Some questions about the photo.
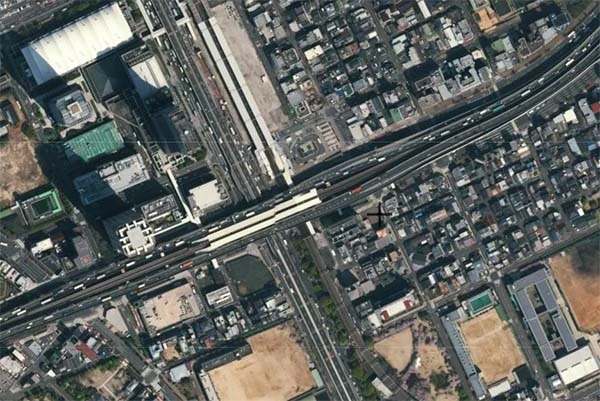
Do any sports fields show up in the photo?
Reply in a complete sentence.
Yes, the photo shows a sports field.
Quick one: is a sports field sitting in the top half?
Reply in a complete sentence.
No, no sports field can be made out in the top half.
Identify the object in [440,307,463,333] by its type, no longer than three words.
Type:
building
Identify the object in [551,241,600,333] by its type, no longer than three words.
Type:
sports field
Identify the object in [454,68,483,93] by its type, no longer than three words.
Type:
building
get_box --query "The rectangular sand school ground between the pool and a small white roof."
[459,309,526,384]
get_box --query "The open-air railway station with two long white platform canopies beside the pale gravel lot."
[199,17,295,186]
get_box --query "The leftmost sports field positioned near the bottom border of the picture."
[208,322,315,401]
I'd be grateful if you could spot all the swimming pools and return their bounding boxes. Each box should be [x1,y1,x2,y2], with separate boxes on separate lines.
[465,290,496,316]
